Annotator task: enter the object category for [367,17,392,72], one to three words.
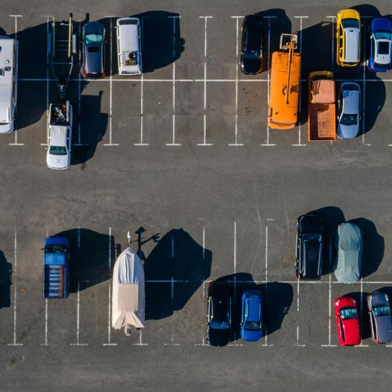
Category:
car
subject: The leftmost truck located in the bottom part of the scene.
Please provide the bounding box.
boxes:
[42,236,69,300]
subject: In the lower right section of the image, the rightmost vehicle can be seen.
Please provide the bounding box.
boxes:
[366,291,392,344]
